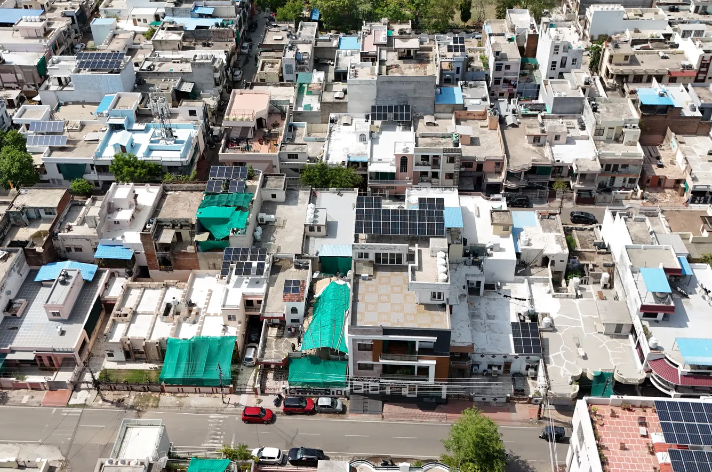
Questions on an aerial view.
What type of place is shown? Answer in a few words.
residential area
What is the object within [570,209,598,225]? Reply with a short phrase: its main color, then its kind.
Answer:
black car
